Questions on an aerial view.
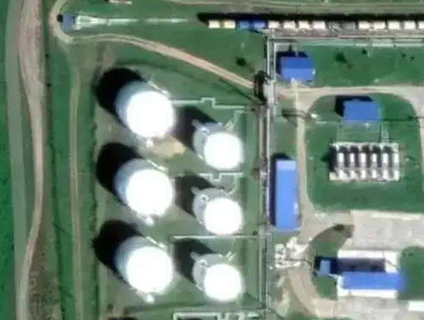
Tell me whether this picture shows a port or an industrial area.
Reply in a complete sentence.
It's an industrial area.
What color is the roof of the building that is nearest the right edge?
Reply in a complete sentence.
The roof over the building that is nearest the right edge appears blue.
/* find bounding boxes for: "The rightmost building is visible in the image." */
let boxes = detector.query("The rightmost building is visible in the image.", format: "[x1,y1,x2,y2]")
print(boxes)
[339,97,379,121]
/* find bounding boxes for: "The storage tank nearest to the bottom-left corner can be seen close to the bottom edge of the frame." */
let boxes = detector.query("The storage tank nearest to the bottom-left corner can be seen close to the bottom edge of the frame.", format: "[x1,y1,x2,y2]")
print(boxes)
[116,233,174,305]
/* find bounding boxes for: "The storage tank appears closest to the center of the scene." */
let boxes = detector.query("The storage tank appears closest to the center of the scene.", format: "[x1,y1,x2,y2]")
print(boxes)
[190,119,242,170]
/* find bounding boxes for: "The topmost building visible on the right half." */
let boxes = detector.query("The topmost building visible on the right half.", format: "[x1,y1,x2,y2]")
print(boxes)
[275,53,313,80]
